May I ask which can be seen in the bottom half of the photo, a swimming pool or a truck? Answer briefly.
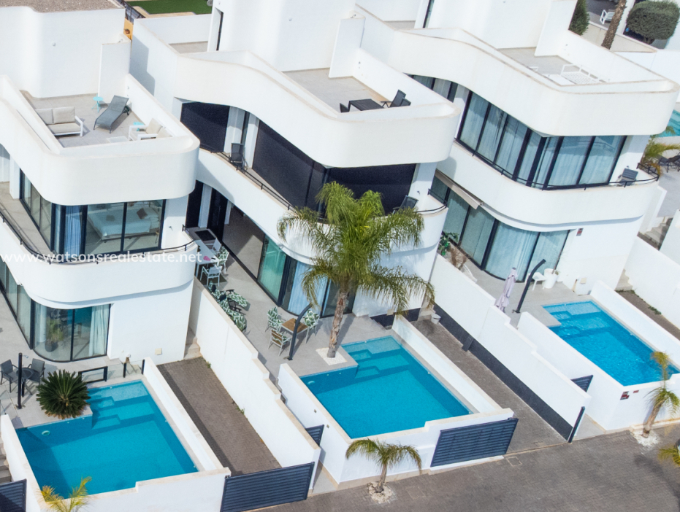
swimming pool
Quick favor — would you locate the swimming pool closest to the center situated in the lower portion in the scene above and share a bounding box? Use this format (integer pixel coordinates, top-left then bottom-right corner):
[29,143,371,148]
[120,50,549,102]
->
[310,334,467,435]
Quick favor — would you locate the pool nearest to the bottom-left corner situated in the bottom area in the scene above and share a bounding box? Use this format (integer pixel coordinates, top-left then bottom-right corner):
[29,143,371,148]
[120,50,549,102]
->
[20,380,196,500]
